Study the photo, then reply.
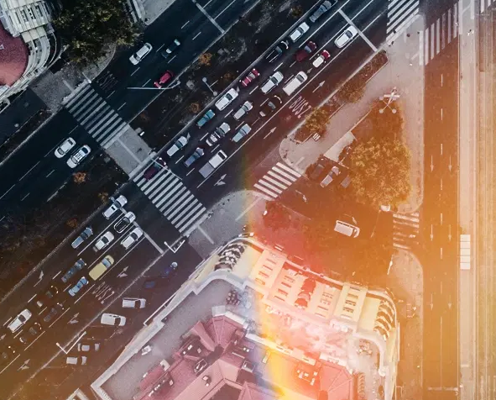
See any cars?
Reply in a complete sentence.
Yes, the image includes a car.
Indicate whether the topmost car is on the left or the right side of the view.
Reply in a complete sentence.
The topmost car is on the right side of the image.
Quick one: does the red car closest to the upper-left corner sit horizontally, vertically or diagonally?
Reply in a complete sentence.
In this picture, the red car closest to the upper-left corner lies diagonally.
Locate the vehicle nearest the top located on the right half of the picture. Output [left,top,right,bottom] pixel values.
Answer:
[313,0,335,22]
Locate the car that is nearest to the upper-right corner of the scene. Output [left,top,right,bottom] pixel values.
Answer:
[335,26,357,48]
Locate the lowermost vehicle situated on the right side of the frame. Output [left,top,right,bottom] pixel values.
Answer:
[334,219,362,237]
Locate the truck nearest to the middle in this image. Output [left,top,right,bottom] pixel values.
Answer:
[199,151,227,178]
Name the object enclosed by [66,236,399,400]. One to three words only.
building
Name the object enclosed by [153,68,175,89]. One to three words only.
car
